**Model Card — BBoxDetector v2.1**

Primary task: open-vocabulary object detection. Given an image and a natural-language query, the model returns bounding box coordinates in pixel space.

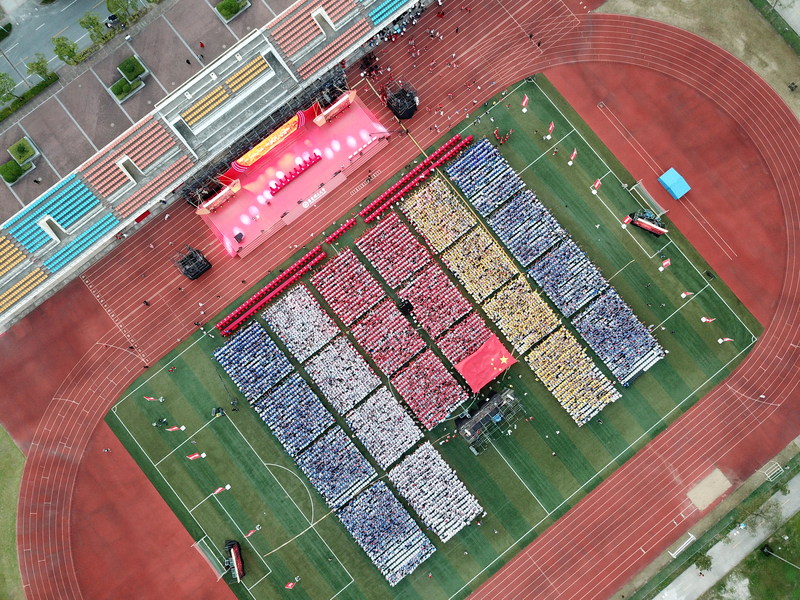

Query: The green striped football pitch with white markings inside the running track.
[103,72,765,600]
